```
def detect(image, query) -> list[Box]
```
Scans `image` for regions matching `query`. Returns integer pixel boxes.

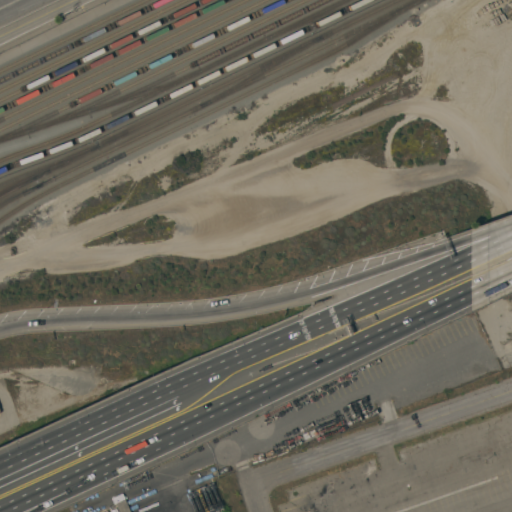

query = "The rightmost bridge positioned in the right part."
[472,214,512,312]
